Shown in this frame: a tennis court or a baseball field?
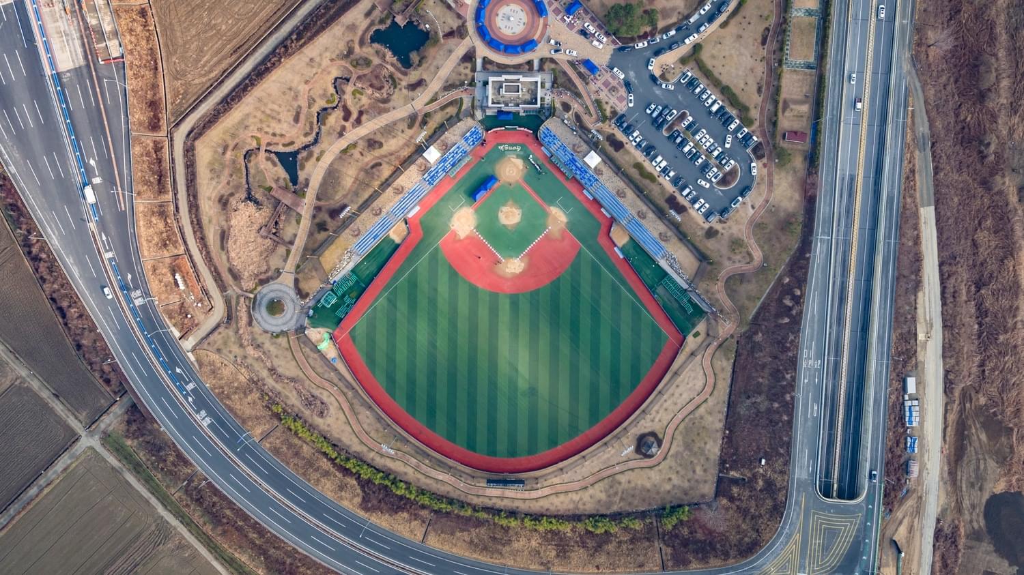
baseball field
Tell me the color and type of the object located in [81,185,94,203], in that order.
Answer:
white vehicle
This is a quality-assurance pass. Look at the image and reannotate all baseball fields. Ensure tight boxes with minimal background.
[333,128,684,473]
